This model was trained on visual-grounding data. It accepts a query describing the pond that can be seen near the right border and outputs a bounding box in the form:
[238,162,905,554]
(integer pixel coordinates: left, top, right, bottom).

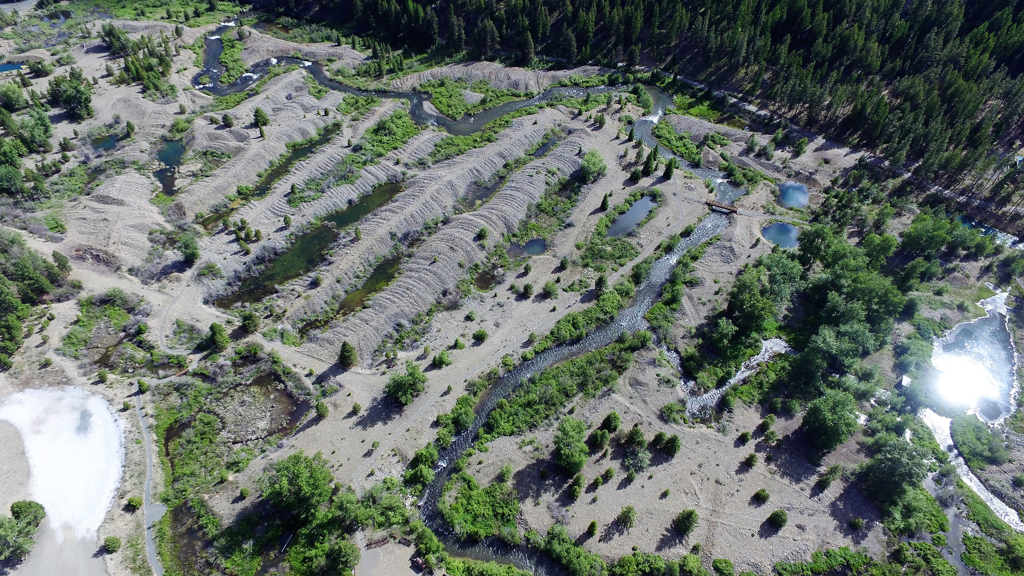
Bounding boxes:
[928,296,1020,429]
